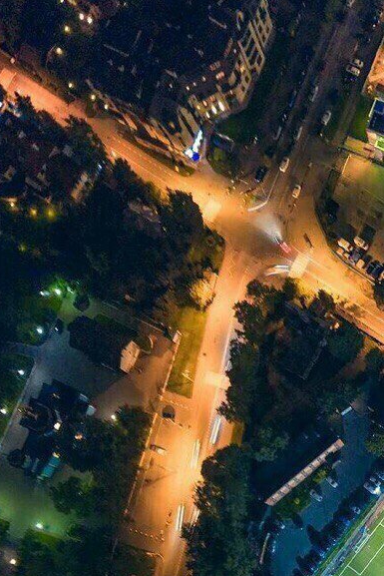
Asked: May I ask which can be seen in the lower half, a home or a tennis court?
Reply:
home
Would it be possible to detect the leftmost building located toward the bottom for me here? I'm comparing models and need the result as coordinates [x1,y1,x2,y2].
[7,374,95,479]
